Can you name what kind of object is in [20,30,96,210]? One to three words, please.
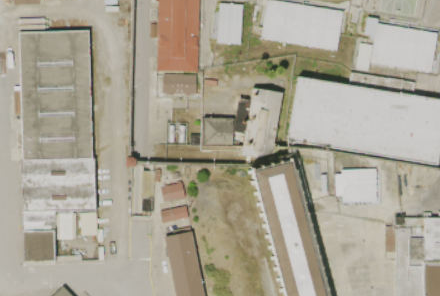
building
